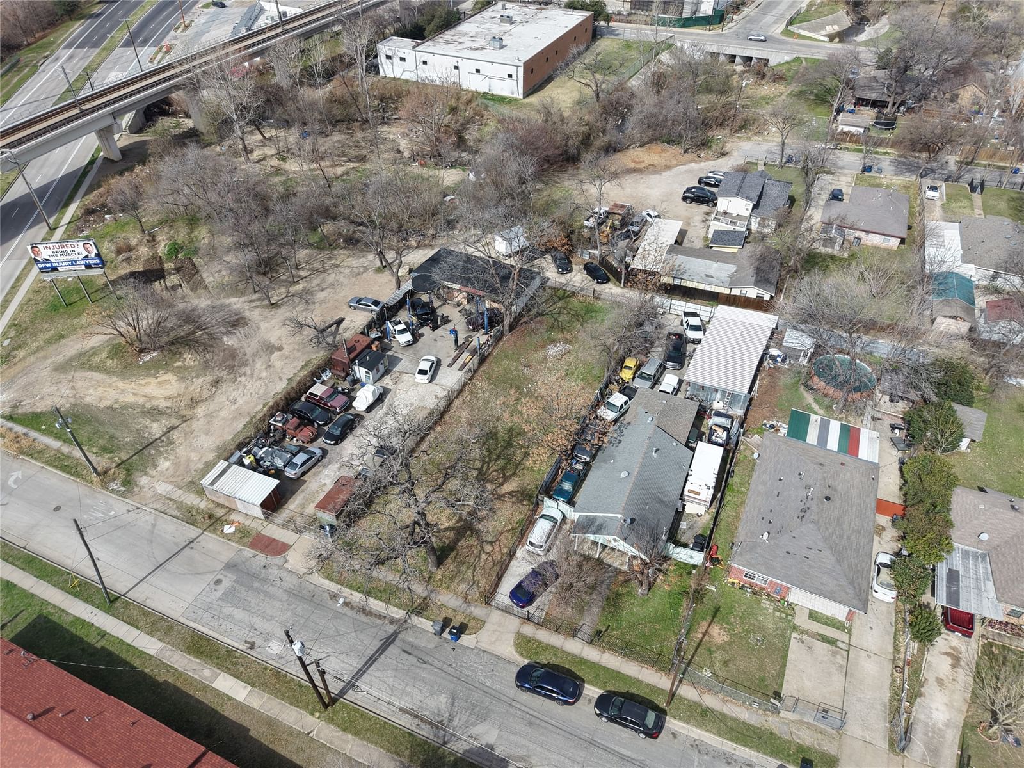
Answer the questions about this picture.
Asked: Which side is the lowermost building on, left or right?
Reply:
left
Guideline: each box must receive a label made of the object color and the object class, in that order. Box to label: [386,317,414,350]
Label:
white vehicle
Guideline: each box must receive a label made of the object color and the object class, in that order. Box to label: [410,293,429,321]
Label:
black car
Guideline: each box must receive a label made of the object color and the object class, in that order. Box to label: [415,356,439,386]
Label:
white car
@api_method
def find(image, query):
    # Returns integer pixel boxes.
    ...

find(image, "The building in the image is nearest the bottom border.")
[0,633,238,768]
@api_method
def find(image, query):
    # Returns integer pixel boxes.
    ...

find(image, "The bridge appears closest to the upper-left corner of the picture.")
[0,0,433,175]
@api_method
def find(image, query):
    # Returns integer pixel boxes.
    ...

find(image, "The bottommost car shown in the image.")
[594,696,666,739]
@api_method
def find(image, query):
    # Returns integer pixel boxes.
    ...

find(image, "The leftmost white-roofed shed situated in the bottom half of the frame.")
[198,457,282,519]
